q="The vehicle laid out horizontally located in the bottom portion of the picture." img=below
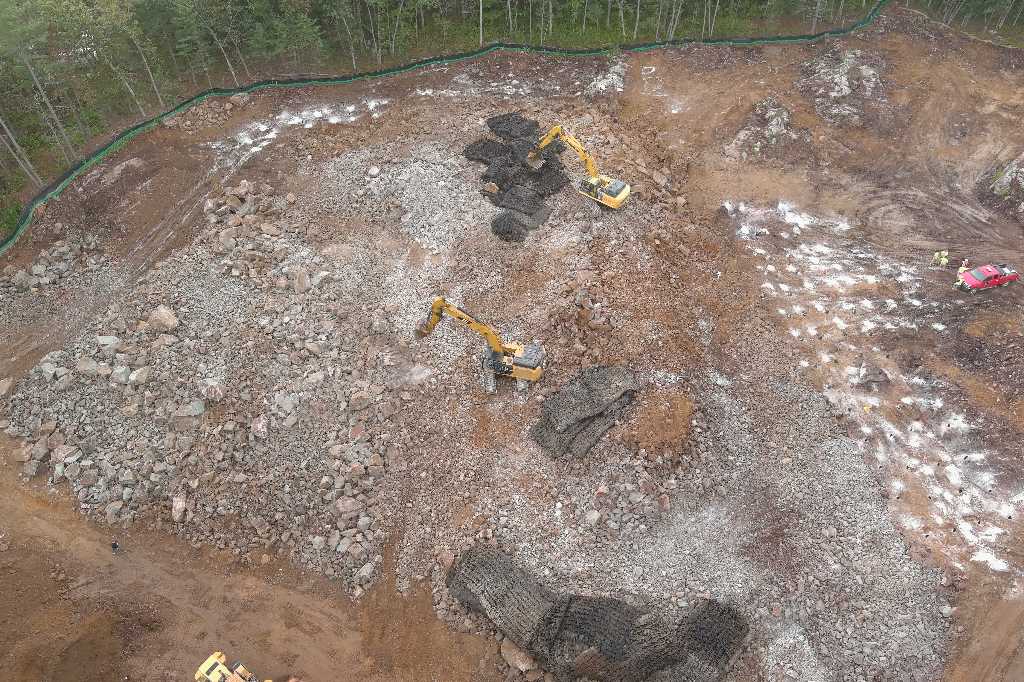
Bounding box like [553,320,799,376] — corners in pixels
[195,651,265,682]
